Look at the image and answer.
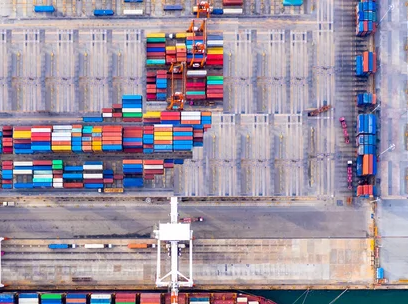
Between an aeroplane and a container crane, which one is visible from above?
container crane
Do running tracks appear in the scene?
No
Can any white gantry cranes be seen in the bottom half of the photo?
Yes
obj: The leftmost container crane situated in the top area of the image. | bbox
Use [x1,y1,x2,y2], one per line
[164,62,188,107]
